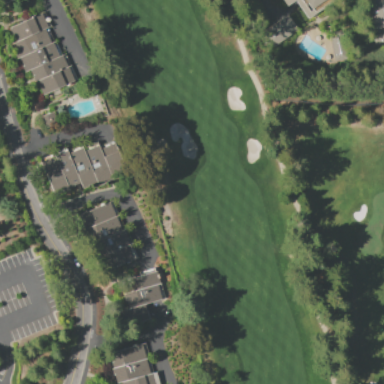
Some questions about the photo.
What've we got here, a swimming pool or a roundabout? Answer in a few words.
swimming pool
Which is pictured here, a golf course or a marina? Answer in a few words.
golf course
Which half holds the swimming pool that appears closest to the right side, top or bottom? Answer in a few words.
top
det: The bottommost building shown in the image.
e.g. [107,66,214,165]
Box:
[114,345,164,384]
